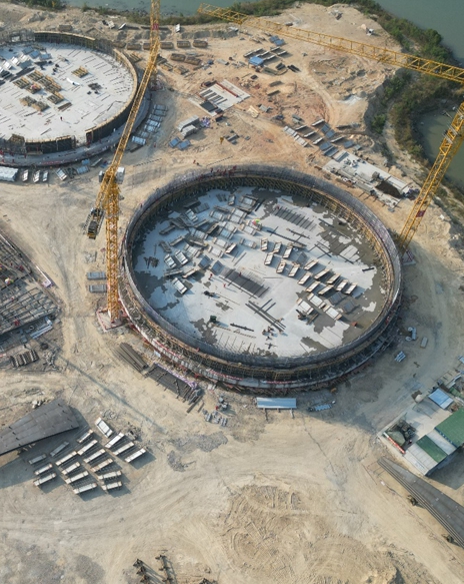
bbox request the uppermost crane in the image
[147,0,166,91]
